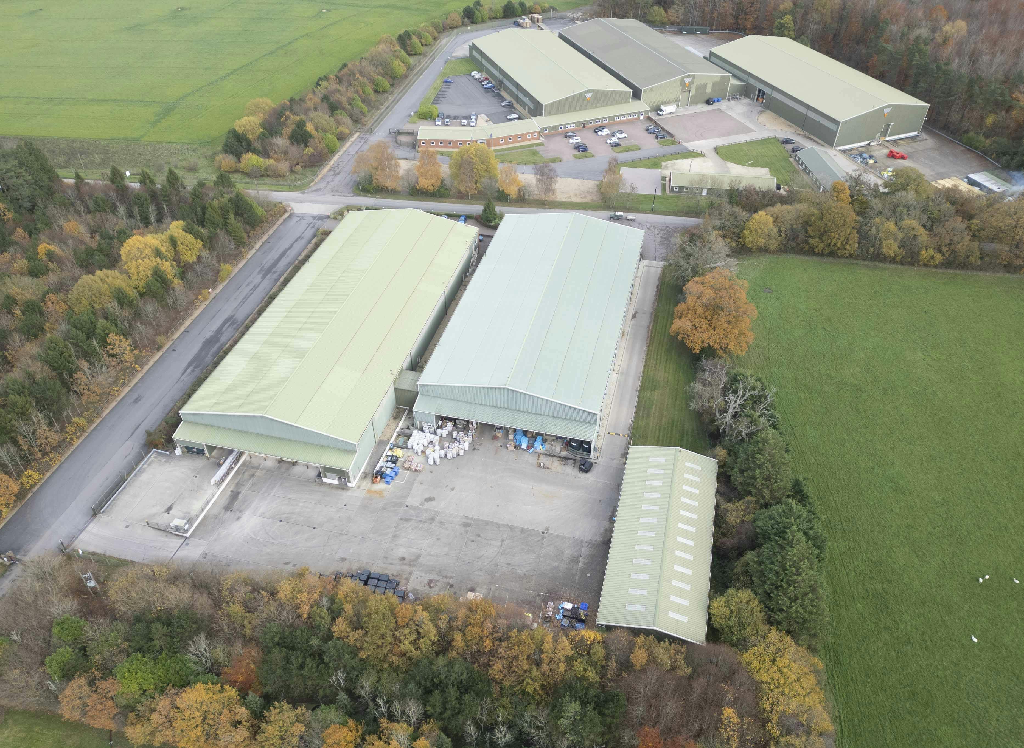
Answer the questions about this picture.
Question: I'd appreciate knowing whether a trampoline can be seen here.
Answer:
No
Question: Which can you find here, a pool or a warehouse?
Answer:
warehouse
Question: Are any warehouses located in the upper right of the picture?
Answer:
Yes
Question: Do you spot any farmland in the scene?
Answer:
Yes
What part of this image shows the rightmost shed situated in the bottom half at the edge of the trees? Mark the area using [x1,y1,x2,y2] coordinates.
[595,445,719,658]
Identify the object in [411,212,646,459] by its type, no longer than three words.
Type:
warehouse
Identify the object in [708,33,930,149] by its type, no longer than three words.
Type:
warehouse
